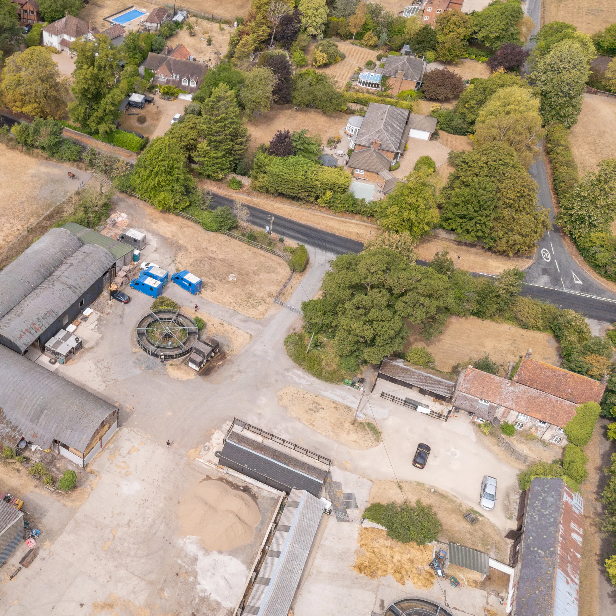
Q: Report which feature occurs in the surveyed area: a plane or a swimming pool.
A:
swimming pool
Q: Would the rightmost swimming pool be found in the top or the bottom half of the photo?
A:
top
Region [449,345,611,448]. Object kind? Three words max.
house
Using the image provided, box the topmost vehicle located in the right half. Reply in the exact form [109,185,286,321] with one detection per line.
[415,439,434,469]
